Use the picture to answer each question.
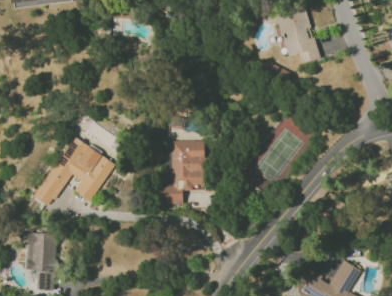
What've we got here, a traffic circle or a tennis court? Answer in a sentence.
This aerial view contains a tennis court.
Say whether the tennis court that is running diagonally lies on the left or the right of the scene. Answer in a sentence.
The tennis court that is running diagonally appears in the right half of the scene.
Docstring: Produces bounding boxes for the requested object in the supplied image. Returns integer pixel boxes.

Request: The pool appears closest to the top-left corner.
[123,22,150,39]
